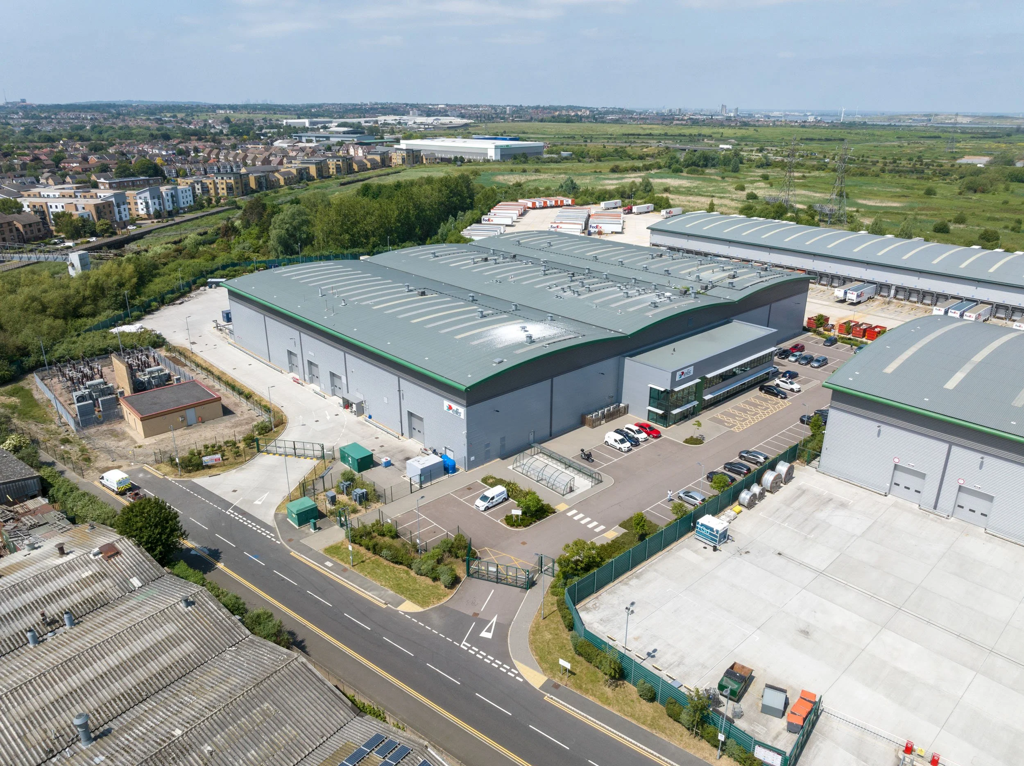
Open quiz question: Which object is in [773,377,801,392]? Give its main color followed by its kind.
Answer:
white car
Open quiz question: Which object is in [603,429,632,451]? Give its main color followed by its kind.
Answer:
white vehicle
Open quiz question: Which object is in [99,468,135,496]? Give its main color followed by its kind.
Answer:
white van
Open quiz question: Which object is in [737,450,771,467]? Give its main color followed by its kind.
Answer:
gray car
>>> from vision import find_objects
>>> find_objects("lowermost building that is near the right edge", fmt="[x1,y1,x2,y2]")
[815,315,1024,542]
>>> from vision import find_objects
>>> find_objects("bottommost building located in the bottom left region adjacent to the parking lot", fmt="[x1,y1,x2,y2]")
[0,521,469,766]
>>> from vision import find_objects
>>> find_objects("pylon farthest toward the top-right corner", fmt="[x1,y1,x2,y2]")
[944,112,963,152]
